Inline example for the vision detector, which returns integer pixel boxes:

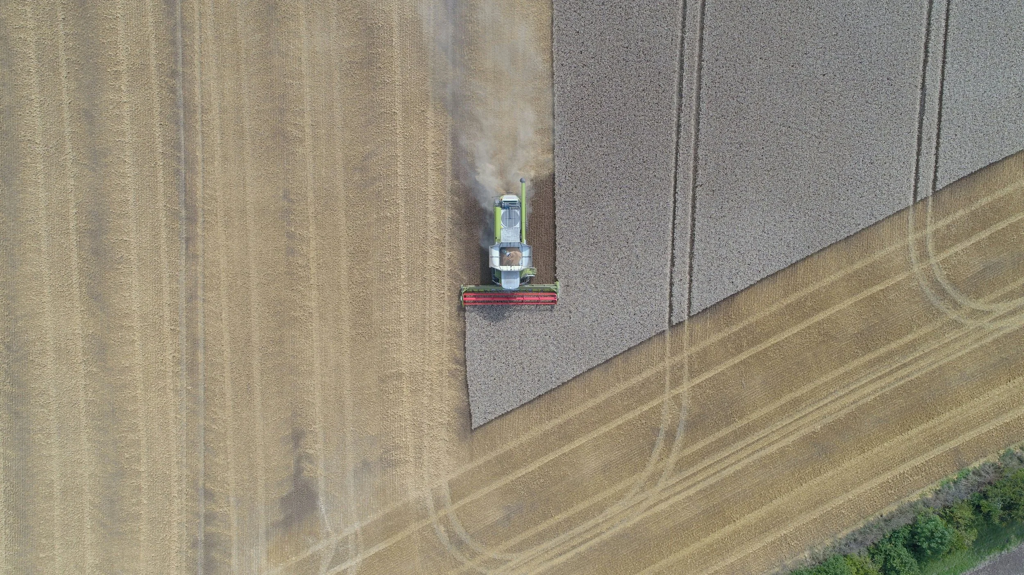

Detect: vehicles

[461,177,559,310]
